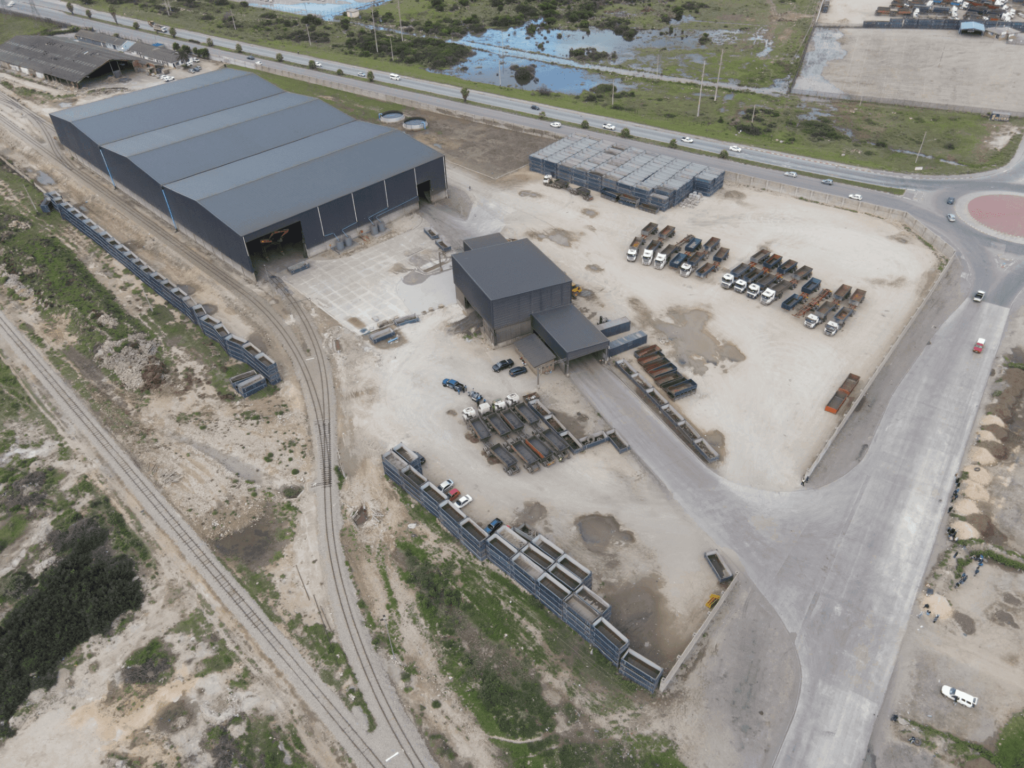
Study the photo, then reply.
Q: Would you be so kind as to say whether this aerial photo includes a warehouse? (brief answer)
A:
Yes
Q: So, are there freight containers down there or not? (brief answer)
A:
Yes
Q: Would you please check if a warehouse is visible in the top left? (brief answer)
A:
Yes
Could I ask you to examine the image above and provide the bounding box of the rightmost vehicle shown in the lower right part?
[941,685,982,710]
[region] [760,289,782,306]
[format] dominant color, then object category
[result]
white vehicle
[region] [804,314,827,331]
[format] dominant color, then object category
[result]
white vehicle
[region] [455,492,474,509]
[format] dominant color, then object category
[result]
white car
